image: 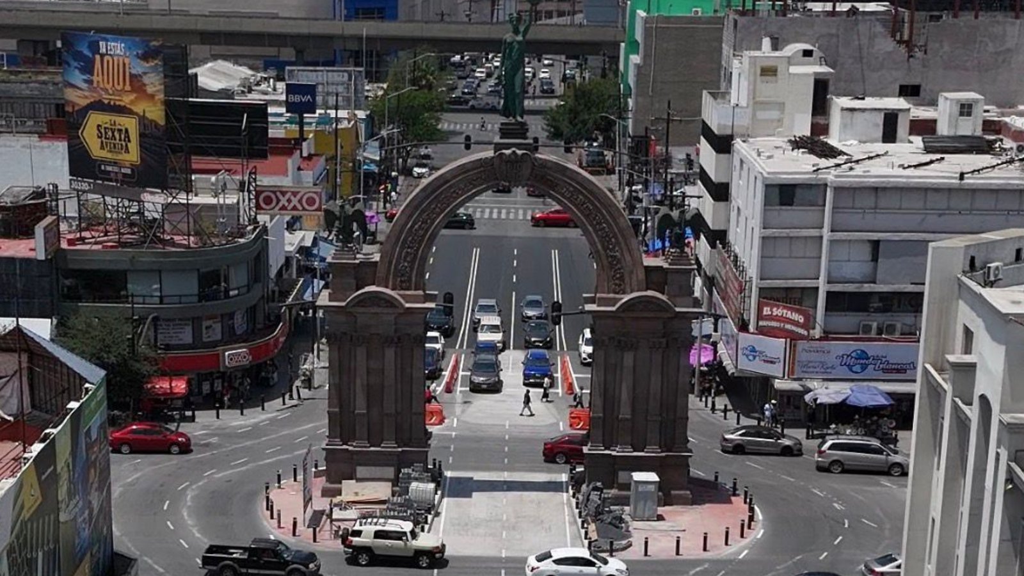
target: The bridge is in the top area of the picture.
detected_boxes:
[0,5,618,82]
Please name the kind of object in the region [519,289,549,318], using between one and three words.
car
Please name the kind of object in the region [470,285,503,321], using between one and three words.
car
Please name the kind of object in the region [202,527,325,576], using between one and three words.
truck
